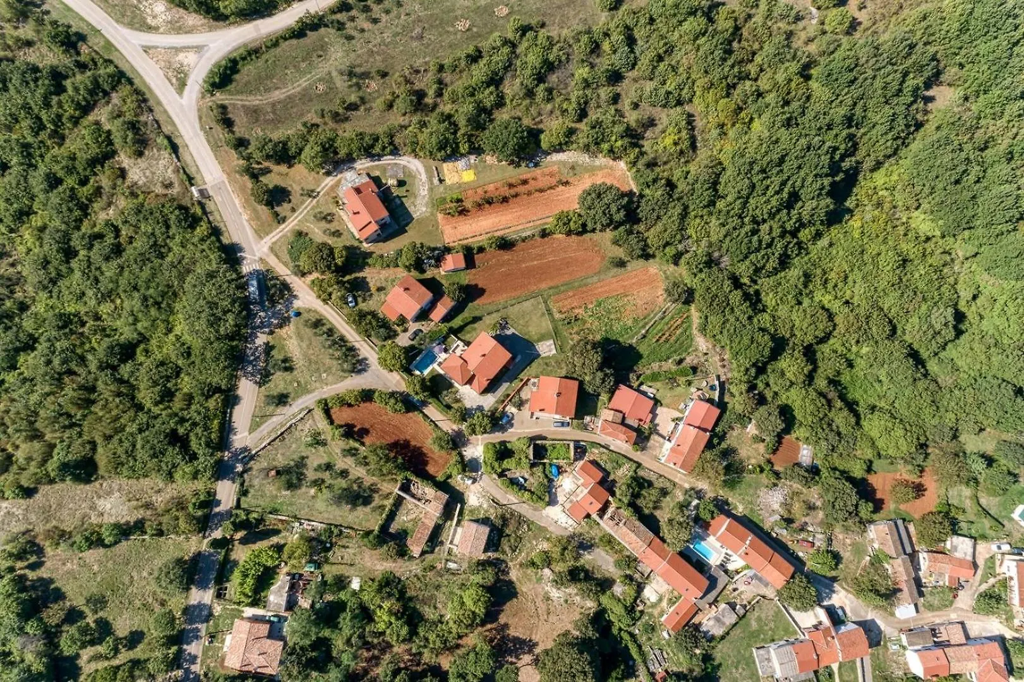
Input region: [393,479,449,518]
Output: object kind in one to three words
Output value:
barn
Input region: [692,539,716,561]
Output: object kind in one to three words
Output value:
swimming pool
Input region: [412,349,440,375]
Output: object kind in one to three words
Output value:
swimming pool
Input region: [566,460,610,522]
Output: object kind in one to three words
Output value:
house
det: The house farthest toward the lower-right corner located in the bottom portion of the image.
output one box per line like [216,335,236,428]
[964,635,1009,682]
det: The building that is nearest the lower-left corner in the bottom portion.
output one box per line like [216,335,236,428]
[223,615,288,675]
